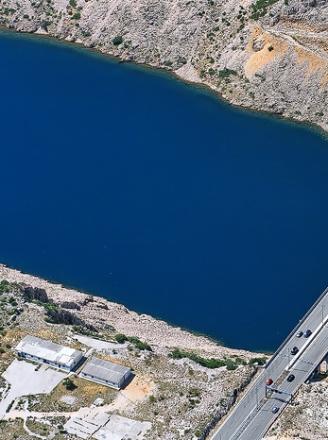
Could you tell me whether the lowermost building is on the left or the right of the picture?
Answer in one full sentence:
The lowermost building sits on the left side.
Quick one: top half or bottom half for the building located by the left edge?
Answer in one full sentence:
Seen from above, the building located by the left edge lies in the bottom half of the view.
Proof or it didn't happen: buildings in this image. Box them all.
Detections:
[79,356,132,389]
[13,335,84,373]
